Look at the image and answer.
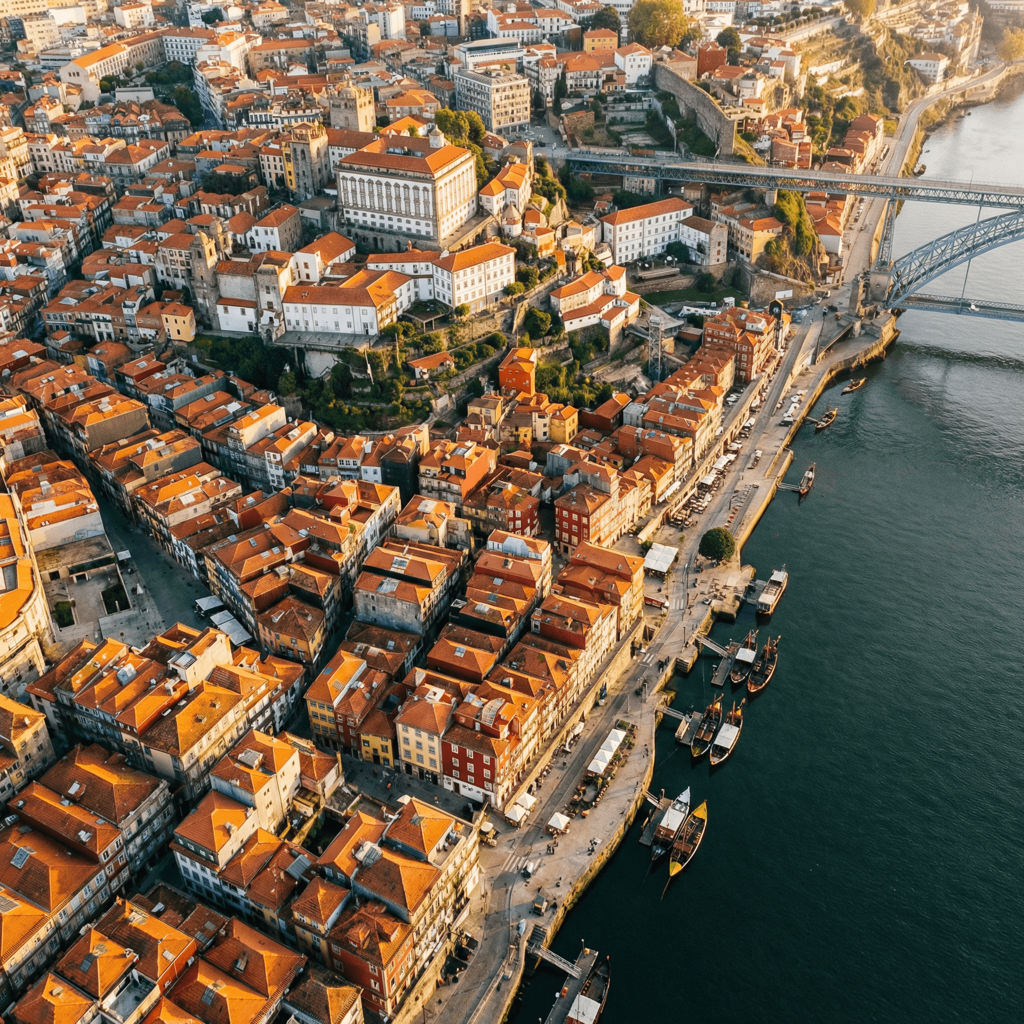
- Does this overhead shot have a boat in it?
Yes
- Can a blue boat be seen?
No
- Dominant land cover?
buildings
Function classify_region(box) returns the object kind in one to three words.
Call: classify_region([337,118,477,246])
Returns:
building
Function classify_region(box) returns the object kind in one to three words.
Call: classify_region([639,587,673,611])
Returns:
truck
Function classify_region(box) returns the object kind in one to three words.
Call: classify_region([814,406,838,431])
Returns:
boat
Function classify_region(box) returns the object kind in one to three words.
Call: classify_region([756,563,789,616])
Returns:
boat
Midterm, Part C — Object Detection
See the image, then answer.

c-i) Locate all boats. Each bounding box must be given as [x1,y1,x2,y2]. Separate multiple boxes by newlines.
[564,952,612,1024]
[703,692,747,790]
[798,459,818,497]
[747,633,783,707]
[728,620,761,704]
[662,796,709,905]
[756,563,789,616]
[644,782,692,889]
[814,406,838,431]
[687,688,726,781]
